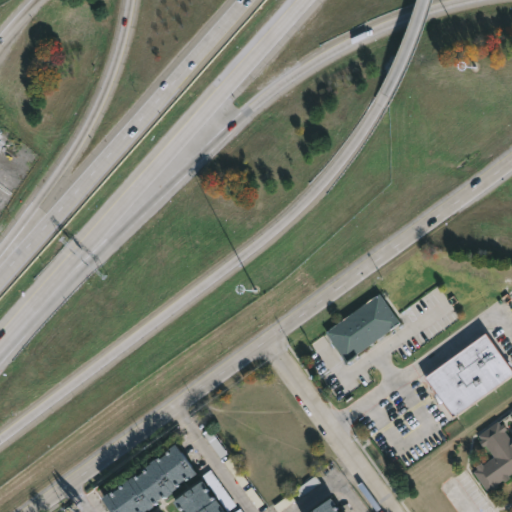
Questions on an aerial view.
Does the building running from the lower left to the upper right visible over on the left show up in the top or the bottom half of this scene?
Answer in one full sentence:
You can find the building running from the lower left to the upper right visible over on the left in the bottom half.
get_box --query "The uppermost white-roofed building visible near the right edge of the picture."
[426,334,512,416]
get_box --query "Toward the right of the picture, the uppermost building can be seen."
[326,294,400,364]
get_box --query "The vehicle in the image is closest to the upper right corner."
[350,30,377,45]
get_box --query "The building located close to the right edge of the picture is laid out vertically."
[474,410,512,492]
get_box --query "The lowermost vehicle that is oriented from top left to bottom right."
[360,482,388,512]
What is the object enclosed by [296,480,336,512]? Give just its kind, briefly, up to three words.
shed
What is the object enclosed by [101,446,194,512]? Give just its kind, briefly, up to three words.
building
